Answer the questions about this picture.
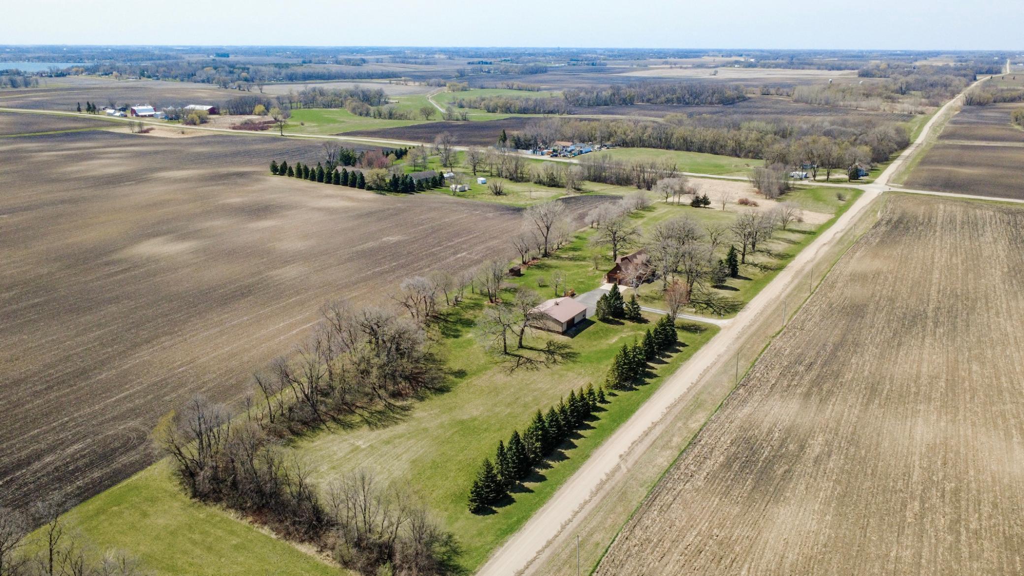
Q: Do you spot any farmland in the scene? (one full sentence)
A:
Yes, the picture does contain farmland.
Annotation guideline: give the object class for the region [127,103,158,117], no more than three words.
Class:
barn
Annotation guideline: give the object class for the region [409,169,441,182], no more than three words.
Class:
shed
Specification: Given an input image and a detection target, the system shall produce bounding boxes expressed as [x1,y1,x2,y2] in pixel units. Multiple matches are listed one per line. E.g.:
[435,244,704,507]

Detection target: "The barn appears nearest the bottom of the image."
[528,297,589,334]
